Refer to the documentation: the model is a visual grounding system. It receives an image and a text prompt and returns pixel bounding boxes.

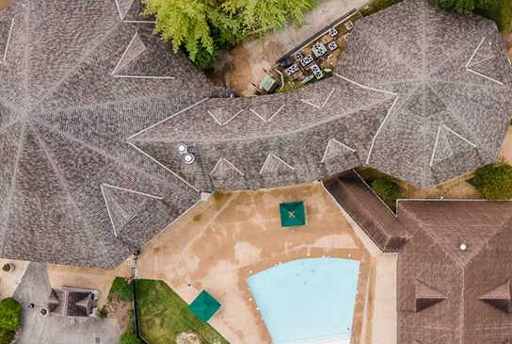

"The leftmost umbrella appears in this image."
[188,289,222,323]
